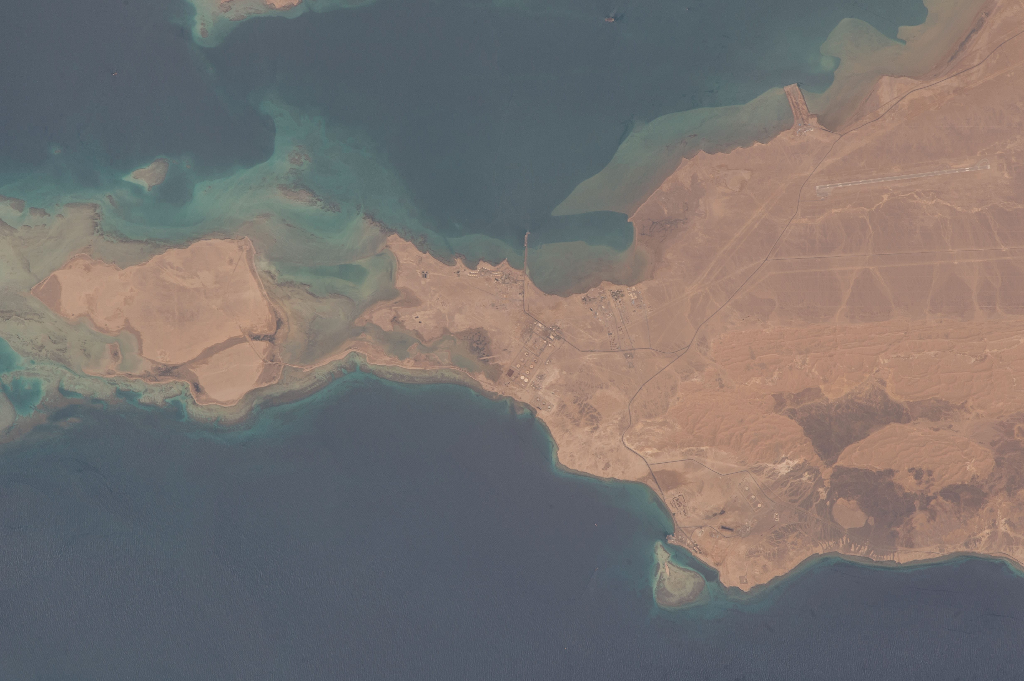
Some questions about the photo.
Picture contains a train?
No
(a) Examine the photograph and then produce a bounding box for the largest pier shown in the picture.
[784,83,826,130]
